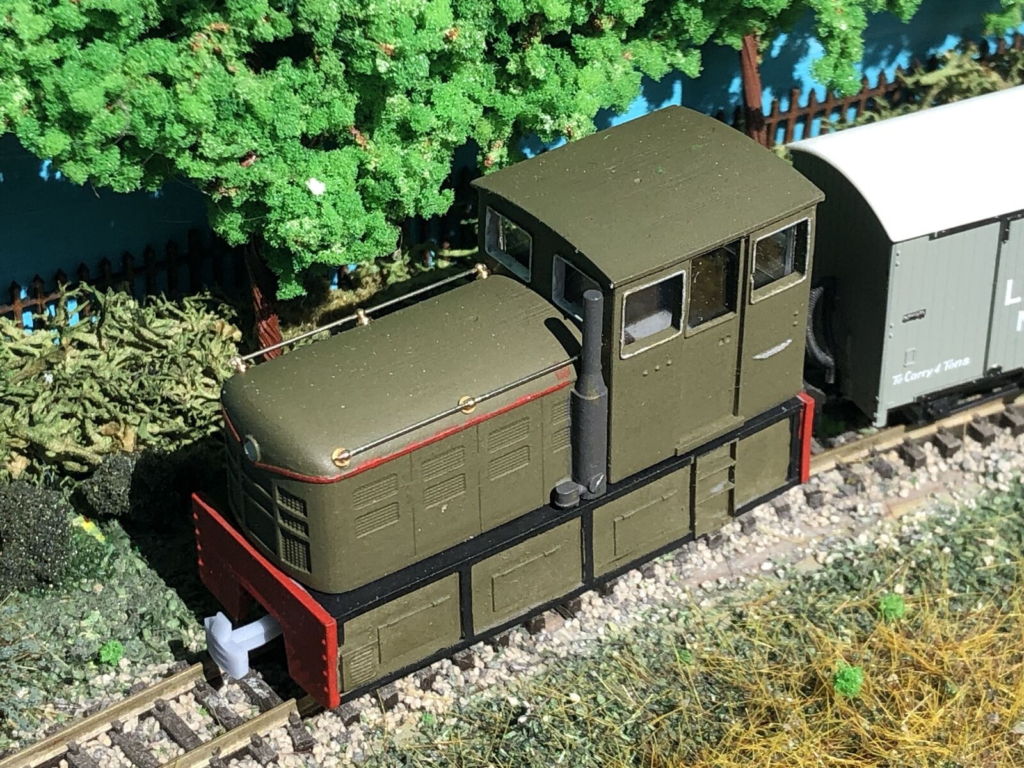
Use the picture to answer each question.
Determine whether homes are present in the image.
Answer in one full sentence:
No, no home is visible in the view.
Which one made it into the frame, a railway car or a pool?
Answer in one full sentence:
This aerial view contains a railway car.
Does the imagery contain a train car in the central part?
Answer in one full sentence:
Yes, looking in the central part, one can make out a train car.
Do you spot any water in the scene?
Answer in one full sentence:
No, the scene doesn't show any water.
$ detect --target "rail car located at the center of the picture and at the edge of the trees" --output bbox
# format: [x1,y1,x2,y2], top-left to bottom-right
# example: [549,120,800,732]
[192,106,823,708]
